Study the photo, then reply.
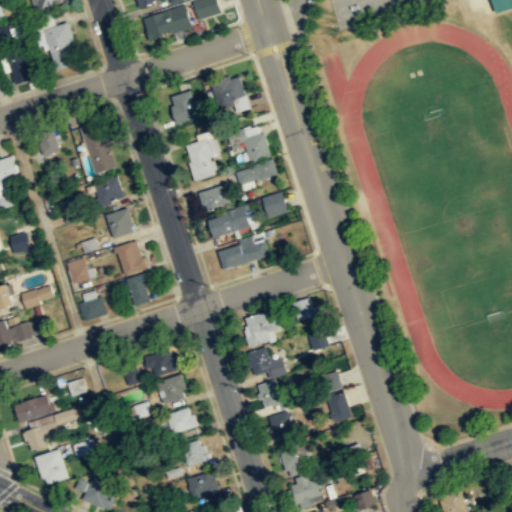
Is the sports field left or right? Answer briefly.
right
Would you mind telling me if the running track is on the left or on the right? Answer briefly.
right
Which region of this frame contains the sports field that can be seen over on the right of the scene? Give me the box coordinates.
[363,42,512,388]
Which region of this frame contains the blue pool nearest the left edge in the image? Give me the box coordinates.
[22,274,47,290]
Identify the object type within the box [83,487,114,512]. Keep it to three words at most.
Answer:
house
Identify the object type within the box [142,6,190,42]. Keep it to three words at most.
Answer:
house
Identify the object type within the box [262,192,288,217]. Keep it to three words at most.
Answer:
building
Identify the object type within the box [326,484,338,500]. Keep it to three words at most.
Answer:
vehicle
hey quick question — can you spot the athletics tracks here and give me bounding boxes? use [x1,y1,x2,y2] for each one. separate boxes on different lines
[324,24,512,406]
